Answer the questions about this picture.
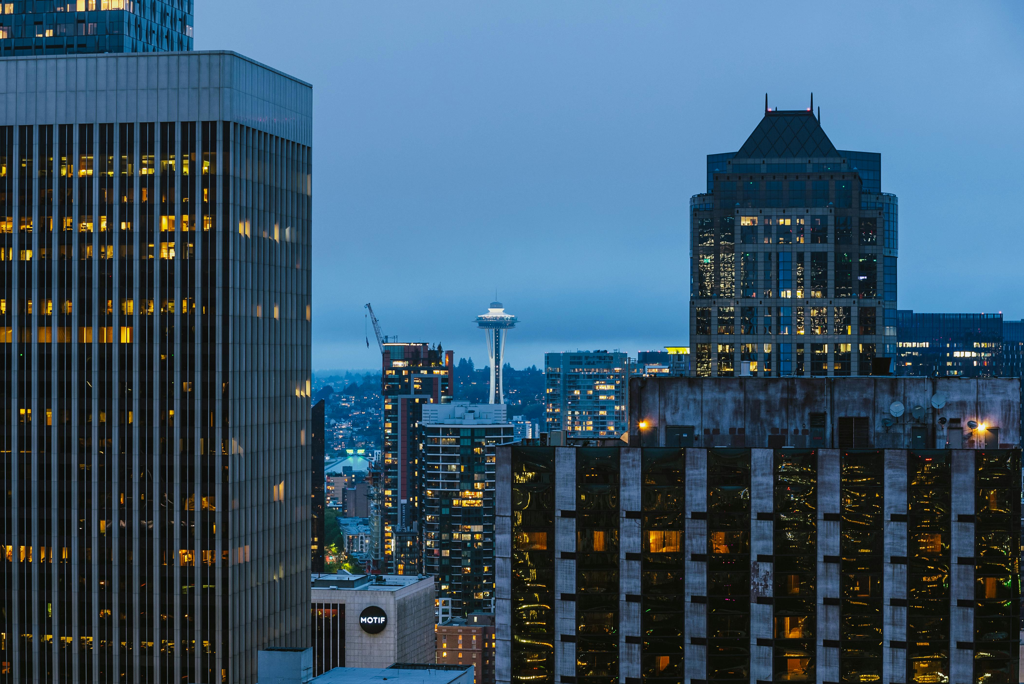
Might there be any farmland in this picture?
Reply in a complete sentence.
No, there is no farmland in the image.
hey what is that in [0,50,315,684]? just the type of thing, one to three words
building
